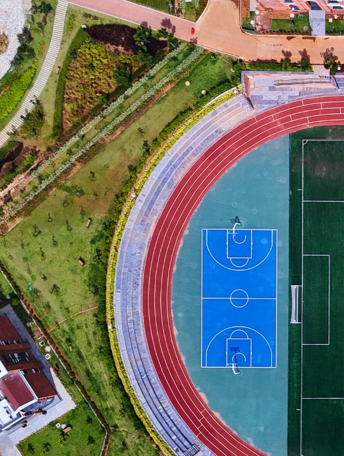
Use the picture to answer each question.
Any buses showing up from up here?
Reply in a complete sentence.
No, there's no bus here.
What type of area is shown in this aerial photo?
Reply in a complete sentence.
The picture captures a sports ground.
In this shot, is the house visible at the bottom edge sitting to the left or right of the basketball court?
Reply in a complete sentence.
From the viewer's perspective, the house visible at the bottom edge falls to the left of the basketball court.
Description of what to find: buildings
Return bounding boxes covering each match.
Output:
[0,304,60,437]
[251,0,344,16]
